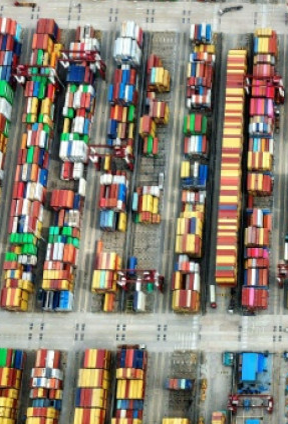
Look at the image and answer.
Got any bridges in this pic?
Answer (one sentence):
No, there is no bridge in the image.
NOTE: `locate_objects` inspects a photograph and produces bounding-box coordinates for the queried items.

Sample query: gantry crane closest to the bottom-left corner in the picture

[117,269,164,291]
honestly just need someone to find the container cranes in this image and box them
[249,76,285,103]
[14,64,64,92]
[57,50,106,77]
[88,145,135,170]
[231,392,272,413]
[117,269,164,291]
